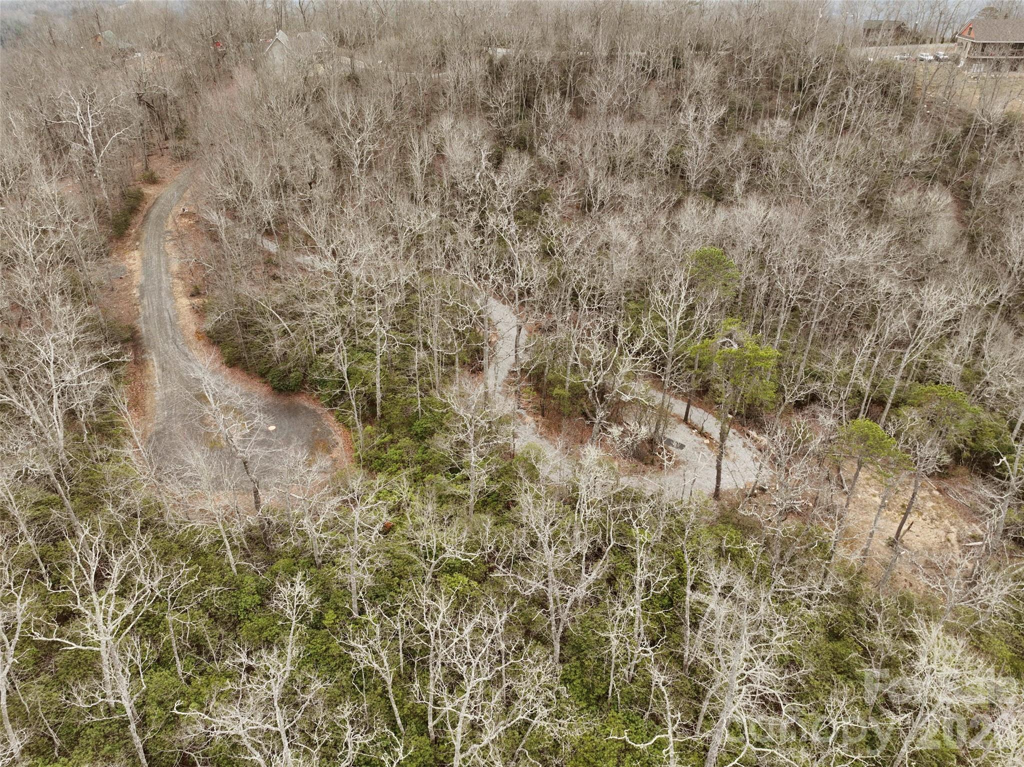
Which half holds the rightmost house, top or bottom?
top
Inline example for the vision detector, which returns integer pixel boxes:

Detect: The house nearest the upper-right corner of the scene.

[956,14,1024,77]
